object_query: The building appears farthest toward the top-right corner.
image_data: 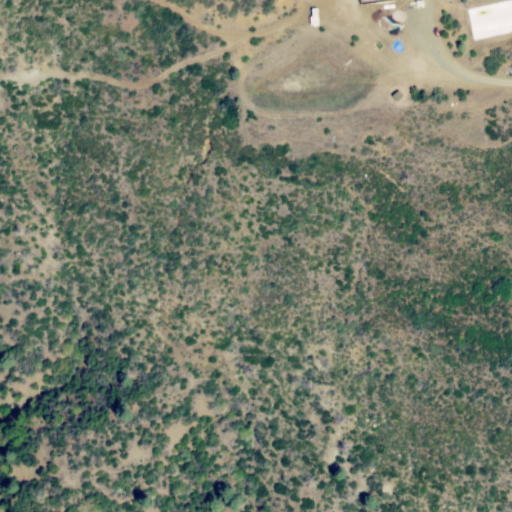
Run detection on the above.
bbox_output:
[470,2,512,40]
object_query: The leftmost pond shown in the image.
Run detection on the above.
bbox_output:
[244,38,378,112]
